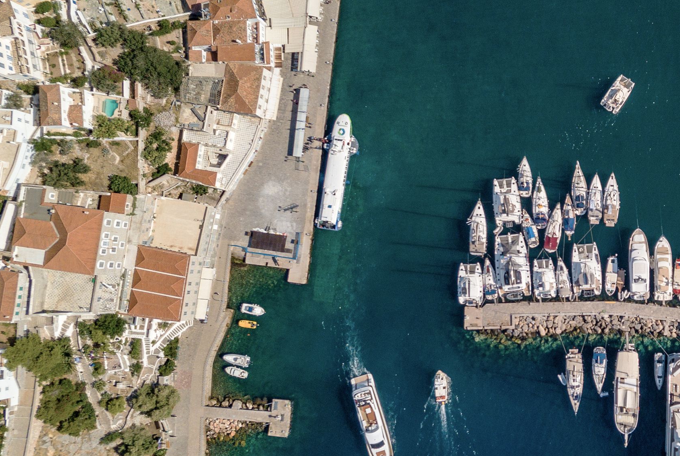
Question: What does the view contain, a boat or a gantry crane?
boat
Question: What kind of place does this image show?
residential area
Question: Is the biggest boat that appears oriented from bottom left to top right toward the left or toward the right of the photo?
right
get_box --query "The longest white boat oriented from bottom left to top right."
[603,75,635,113]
